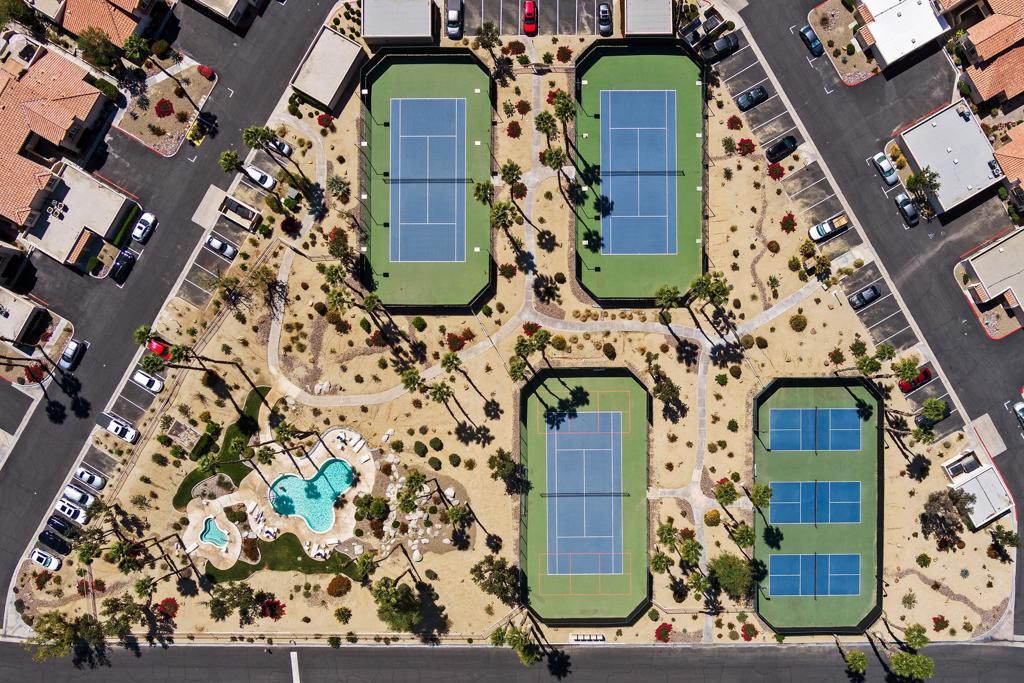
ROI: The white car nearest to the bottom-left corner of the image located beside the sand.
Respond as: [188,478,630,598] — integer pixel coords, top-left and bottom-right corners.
[29,546,64,571]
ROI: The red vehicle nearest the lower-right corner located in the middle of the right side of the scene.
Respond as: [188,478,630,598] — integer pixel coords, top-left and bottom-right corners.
[897,368,932,394]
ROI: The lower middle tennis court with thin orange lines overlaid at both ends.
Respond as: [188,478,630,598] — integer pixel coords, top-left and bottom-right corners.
[522,369,648,618]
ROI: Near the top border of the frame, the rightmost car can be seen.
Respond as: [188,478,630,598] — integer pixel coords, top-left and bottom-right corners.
[799,24,825,58]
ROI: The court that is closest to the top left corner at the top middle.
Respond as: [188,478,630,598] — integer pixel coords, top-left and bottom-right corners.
[366,55,489,304]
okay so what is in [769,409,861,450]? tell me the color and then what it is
blue sports court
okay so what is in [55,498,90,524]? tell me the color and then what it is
white car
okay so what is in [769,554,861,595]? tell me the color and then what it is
blue sports court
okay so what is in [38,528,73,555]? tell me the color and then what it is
black car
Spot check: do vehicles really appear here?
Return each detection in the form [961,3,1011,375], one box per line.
[143,339,174,362]
[846,285,881,310]
[132,210,158,244]
[897,368,932,394]
[1006,398,1024,432]
[55,498,90,524]
[806,212,849,243]
[132,369,164,394]
[62,481,98,509]
[29,546,64,571]
[447,0,463,40]
[110,249,136,283]
[38,528,73,555]
[735,85,769,111]
[92,409,140,442]
[893,192,920,226]
[799,24,825,58]
[914,409,949,427]
[598,3,613,38]
[269,135,296,160]
[523,0,538,35]
[60,337,86,371]
[764,137,798,163]
[73,465,108,491]
[45,513,81,539]
[699,33,741,63]
[872,151,897,186]
[205,235,239,261]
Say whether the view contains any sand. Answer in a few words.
Yes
